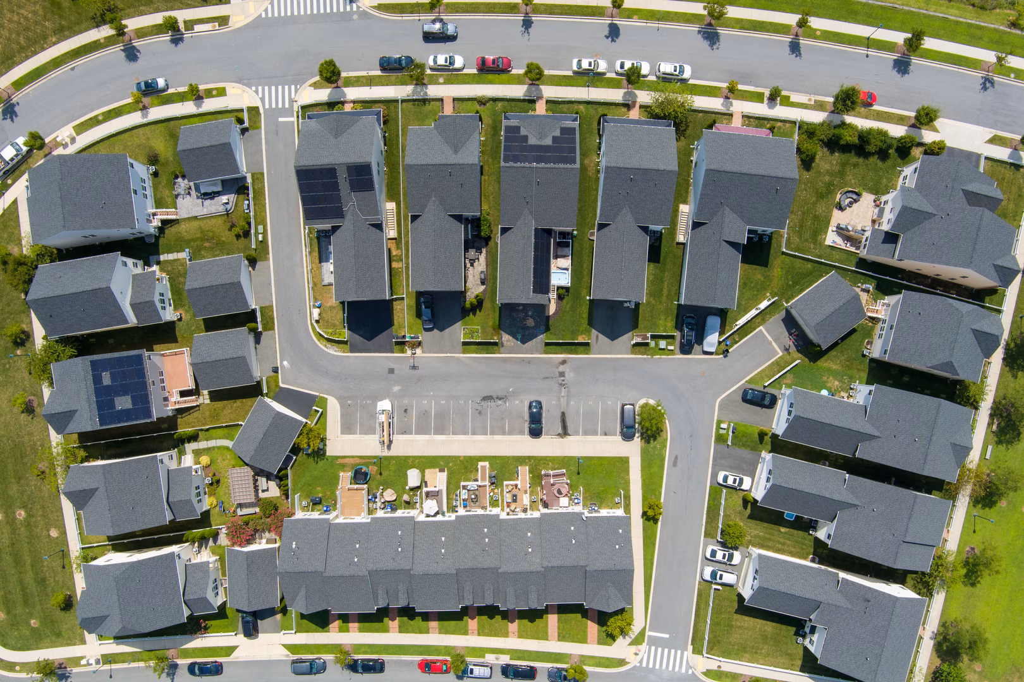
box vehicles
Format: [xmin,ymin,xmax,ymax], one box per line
[572,57,607,75]
[189,659,224,677]
[615,59,649,77]
[429,52,464,70]
[422,20,458,40]
[0,137,35,175]
[544,665,571,682]
[527,400,544,436]
[240,611,259,642]
[656,62,691,80]
[501,662,536,681]
[740,389,776,406]
[350,657,386,676]
[855,88,880,107]
[291,657,327,676]
[679,315,698,351]
[419,294,436,330]
[418,658,451,676]
[379,53,414,71]
[134,76,171,95]
[700,565,738,586]
[376,395,394,439]
[716,471,751,490]
[459,661,495,680]
[620,402,637,440]
[704,546,740,565]
[476,54,512,72]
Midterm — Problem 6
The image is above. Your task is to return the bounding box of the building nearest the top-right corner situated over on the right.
[849,155,1024,286]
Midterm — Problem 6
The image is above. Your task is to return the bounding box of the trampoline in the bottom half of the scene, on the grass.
[353,466,370,483]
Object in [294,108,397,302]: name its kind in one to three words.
house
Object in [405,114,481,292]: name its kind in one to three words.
house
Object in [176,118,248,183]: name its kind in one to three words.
building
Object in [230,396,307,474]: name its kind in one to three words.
building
